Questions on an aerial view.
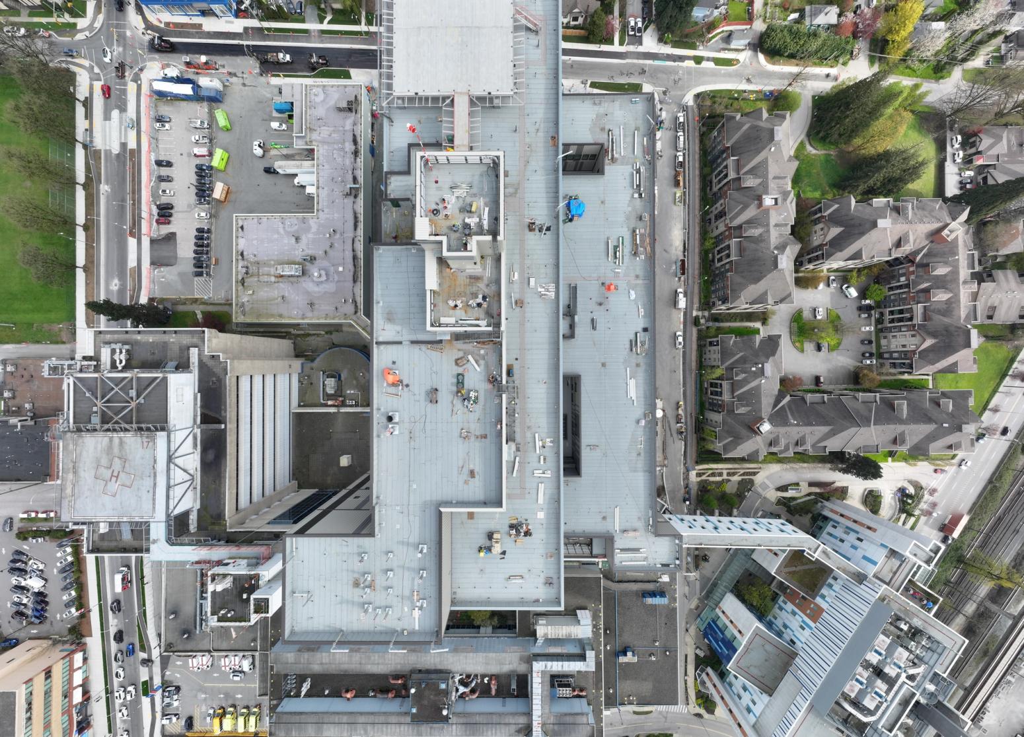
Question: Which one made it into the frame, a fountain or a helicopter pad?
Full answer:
It is a helicopter pad that can be seen here.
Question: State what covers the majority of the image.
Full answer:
The largest share of the image is taken up by buildings.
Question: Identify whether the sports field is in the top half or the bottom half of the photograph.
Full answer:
It is in the top half that the sports field appears.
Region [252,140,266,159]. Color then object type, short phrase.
white vehicle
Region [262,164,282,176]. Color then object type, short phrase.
black vehicle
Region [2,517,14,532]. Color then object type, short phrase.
gray vehicle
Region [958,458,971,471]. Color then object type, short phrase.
white vehicle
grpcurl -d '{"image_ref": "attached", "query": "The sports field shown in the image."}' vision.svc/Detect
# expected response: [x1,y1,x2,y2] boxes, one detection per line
[0,68,75,326]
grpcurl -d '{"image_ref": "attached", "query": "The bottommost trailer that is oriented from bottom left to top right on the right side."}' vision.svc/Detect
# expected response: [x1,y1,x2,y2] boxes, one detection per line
[935,503,972,546]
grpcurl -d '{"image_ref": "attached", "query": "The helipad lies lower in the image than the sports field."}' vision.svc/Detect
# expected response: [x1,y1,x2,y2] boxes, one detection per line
[52,424,274,562]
